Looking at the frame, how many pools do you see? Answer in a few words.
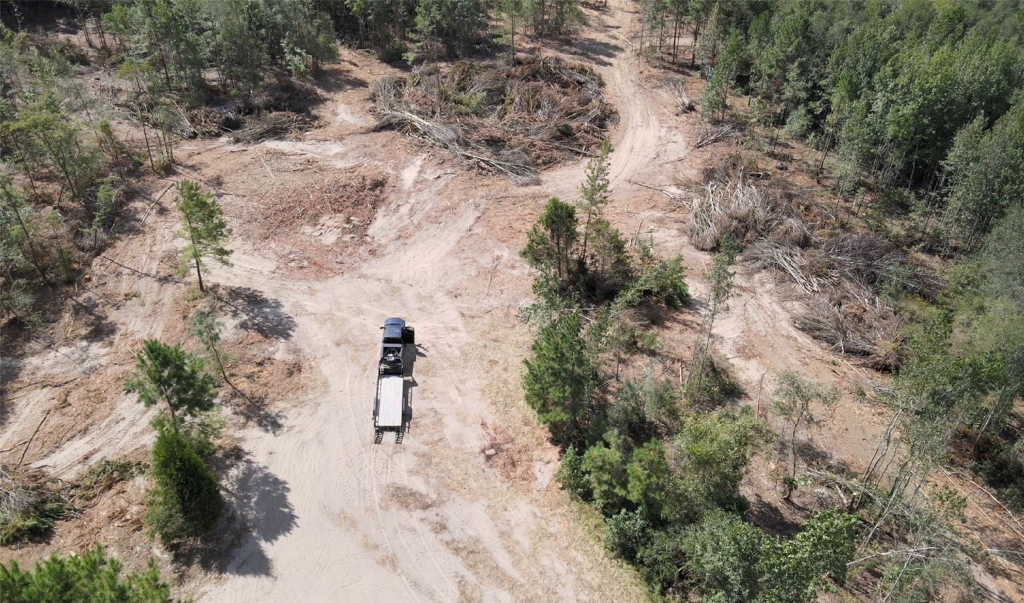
none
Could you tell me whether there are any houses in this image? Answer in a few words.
No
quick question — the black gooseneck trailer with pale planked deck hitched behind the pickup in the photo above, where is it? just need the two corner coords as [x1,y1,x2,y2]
[369,343,408,447]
